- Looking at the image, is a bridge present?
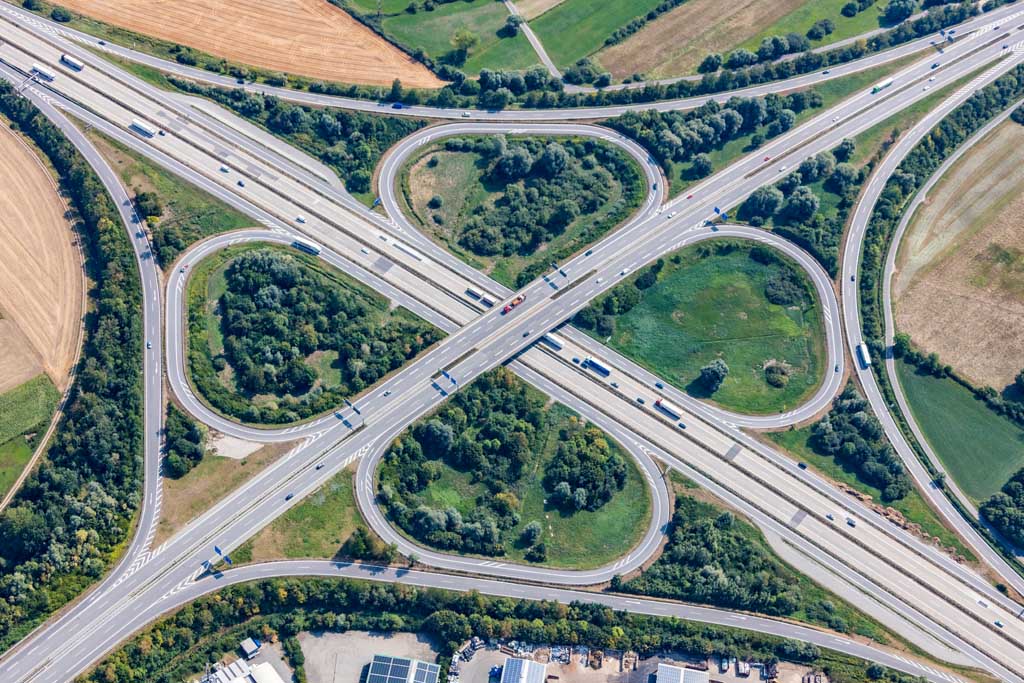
Yes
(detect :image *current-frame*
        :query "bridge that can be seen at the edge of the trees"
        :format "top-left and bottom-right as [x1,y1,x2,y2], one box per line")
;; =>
[453,283,573,364]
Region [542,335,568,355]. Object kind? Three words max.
vehicle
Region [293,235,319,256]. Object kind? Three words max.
bus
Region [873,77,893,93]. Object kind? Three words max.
vehicle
